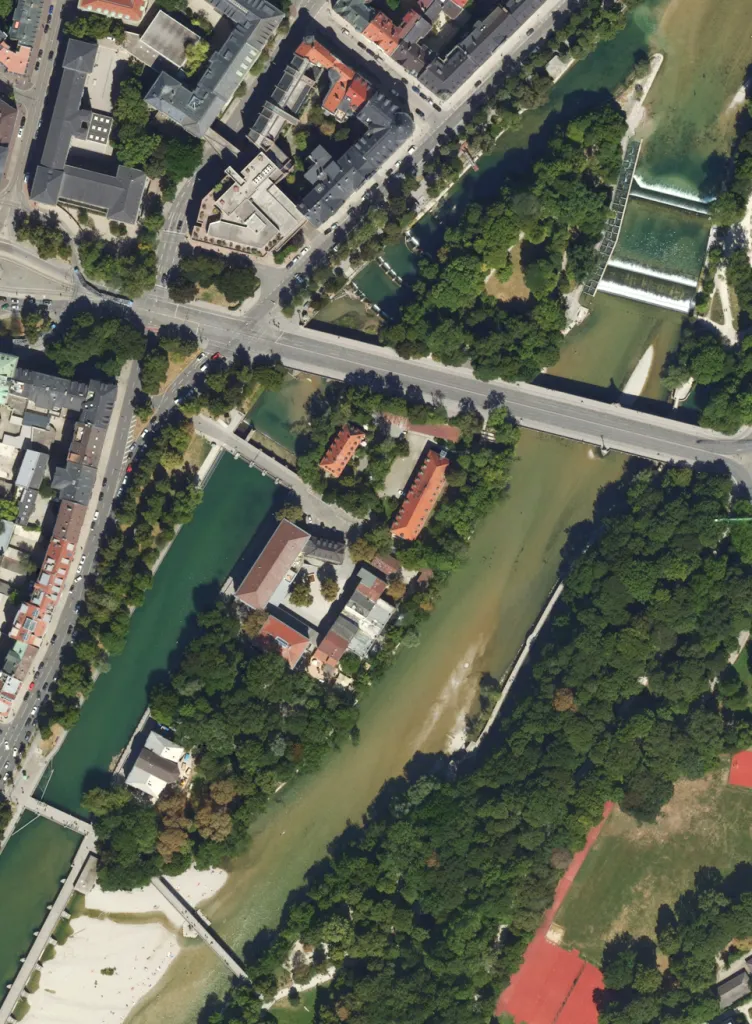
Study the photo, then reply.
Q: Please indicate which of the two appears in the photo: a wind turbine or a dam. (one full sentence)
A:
This aerial view contains a dam.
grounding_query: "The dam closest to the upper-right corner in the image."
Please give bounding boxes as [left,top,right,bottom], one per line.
[630,177,712,215]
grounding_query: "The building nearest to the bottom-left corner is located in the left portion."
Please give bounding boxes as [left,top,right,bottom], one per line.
[73,852,98,894]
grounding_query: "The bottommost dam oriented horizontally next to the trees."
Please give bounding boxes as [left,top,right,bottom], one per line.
[595,263,695,319]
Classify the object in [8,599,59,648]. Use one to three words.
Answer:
house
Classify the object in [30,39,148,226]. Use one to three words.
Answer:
building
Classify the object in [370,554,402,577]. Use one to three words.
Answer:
shed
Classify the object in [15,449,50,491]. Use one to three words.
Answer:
building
